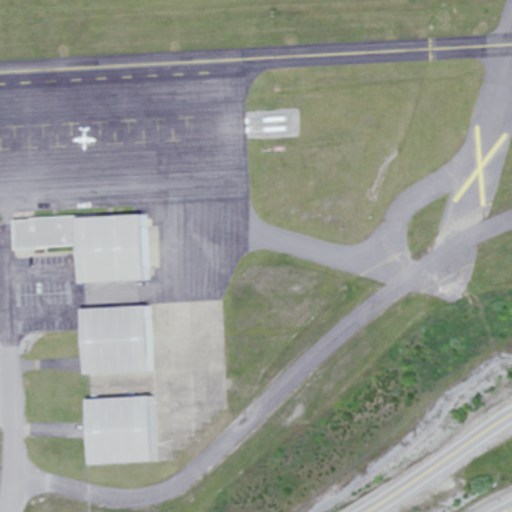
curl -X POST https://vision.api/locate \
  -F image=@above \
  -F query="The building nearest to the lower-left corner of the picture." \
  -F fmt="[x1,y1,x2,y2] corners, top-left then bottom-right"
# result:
[83,396,158,466]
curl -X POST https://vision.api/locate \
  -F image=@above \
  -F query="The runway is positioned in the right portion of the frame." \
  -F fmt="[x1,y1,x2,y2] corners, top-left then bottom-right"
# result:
[386,0,512,249]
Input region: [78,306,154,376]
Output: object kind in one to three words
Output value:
hangar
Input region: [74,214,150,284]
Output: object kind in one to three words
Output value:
hangar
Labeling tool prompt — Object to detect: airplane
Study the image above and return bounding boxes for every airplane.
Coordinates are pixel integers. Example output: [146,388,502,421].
[72,126,96,151]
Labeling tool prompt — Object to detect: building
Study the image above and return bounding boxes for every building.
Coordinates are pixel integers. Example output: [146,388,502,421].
[78,306,154,376]
[74,214,150,284]
[83,396,158,466]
